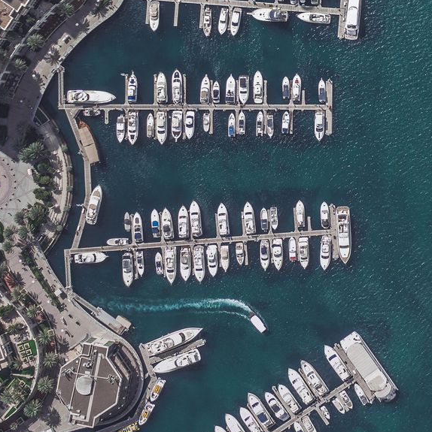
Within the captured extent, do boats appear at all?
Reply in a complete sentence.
Yes, the frame does contain a boat.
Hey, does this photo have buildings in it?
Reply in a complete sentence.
Yes, I can see a building in this picture.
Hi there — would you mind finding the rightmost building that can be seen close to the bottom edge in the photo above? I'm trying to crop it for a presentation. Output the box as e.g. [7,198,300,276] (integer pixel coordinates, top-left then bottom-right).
[55,340,138,429]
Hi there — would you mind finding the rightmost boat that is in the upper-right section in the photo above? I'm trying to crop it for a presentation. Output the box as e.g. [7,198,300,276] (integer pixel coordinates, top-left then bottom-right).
[345,0,361,42]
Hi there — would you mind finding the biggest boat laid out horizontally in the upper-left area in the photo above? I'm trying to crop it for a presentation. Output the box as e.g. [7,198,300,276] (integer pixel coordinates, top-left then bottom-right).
[66,90,117,104]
